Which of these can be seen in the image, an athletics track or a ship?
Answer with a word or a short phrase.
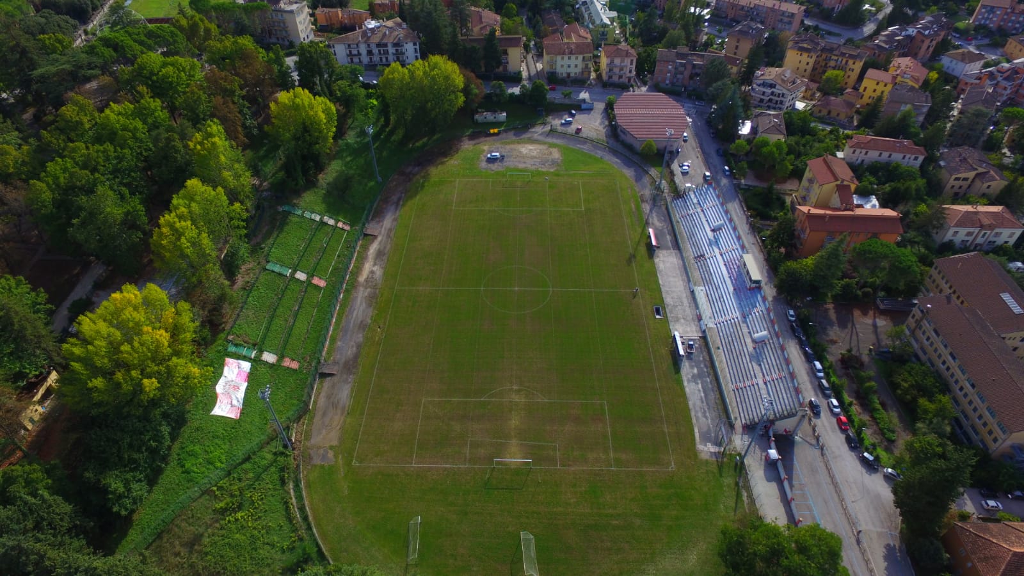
athletics track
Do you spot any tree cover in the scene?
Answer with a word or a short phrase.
Yes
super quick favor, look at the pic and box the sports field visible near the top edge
[125,0,215,29]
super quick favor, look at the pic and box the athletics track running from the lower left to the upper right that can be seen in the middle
[312,123,665,464]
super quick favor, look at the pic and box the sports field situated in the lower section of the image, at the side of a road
[298,122,755,576]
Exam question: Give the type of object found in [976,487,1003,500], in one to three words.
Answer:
vehicle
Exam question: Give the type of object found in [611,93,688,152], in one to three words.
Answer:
building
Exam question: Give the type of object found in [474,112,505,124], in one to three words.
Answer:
building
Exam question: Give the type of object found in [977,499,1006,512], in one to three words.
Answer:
vehicle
